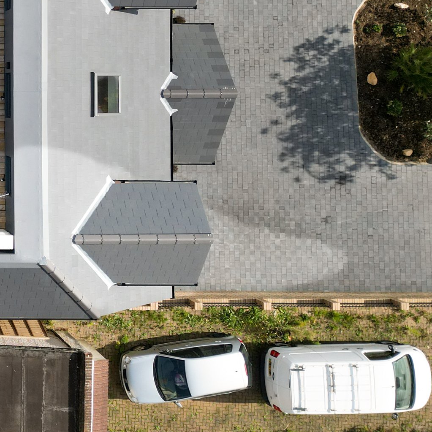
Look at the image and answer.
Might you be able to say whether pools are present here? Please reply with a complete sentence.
No, the frame has no pool in it.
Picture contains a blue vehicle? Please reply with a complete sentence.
No, the scene contains no blue vehicle.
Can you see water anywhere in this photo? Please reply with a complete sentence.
No, the picture contains no water.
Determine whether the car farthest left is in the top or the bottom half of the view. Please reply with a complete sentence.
It is in the bottom half that the car farthest left appears.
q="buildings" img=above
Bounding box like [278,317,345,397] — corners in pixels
[0,0,238,323]
[0,344,104,432]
